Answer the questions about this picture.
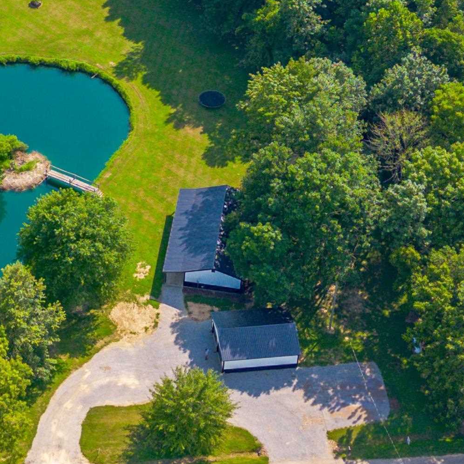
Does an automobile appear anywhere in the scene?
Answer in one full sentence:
No, this view has no automobile in it.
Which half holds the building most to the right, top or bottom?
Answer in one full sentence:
It is in the bottom half that the building most to the right appears.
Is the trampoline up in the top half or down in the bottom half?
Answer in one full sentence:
It is in the top half that the trampoline appears.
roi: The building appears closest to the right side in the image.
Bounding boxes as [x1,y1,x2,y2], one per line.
[211,308,304,373]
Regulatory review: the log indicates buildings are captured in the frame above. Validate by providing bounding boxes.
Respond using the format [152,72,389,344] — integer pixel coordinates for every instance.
[161,183,253,294]
[211,308,304,373]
